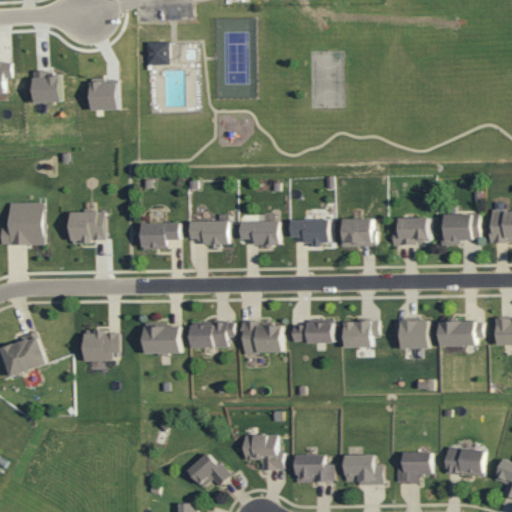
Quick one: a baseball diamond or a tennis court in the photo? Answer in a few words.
tennis court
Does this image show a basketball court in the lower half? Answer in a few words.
No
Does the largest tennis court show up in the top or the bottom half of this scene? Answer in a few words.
top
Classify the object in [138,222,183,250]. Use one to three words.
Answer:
house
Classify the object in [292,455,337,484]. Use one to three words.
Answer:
house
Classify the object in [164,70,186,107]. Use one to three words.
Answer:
swimming pool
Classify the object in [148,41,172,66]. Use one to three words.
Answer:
building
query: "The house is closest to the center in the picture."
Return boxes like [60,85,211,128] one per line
[238,222,282,247]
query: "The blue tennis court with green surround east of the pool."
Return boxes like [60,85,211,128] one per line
[216,18,258,100]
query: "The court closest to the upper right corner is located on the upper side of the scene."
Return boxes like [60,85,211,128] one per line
[312,51,346,108]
